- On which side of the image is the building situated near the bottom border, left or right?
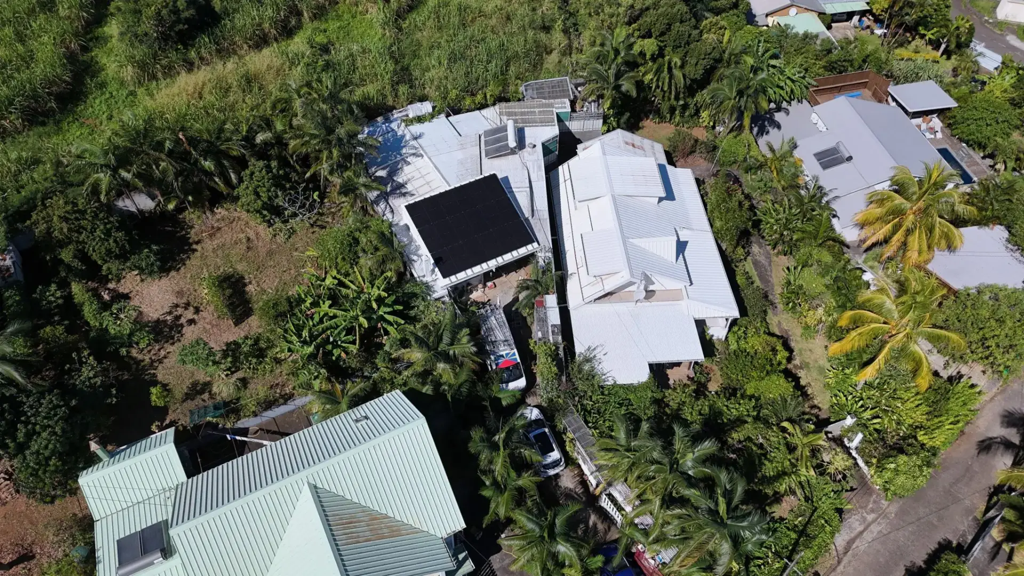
left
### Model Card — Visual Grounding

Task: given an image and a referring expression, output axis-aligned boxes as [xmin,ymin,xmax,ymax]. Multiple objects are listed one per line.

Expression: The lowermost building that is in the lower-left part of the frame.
[79,390,479,576]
